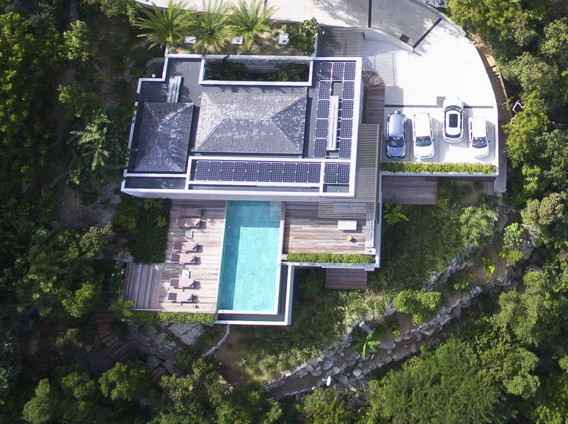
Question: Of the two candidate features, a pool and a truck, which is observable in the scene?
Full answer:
The image shows a pool.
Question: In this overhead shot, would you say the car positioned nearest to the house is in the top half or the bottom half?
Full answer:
The car positioned nearest to the house is in the top half of the image.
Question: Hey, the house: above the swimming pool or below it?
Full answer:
The house is above the swimming pool.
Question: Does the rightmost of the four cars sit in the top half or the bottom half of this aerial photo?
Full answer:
You can find the rightmost of the four cars in the top half.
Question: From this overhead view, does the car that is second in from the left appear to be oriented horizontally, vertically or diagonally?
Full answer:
The car that is second in from the left runs vertically in the image.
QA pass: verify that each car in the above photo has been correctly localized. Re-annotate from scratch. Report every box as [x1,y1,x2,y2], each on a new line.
[442,97,466,142]
[384,109,408,159]
[468,117,492,159]
[411,112,435,159]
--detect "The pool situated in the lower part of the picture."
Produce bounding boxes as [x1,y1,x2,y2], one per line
[215,198,290,315]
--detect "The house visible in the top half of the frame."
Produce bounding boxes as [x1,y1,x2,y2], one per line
[121,56,366,201]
